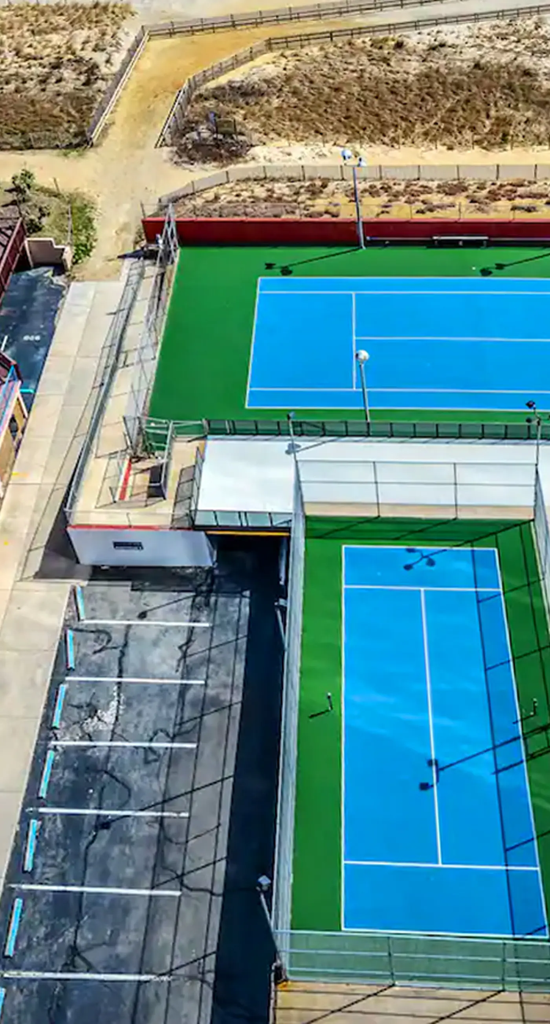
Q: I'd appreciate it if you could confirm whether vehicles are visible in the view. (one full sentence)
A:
No, no vehicle can be seen from above.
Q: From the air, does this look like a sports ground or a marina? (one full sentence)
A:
This image shows a sports ground.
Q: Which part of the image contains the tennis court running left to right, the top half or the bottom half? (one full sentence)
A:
The top half of the photo is where the tennis court running left to right is.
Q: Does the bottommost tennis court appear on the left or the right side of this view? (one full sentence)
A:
You can find the bottommost tennis court on the right side of the picture.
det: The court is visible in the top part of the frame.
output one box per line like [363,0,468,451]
[144,245,550,438]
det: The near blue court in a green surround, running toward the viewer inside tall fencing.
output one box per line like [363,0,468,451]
[294,516,550,991]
